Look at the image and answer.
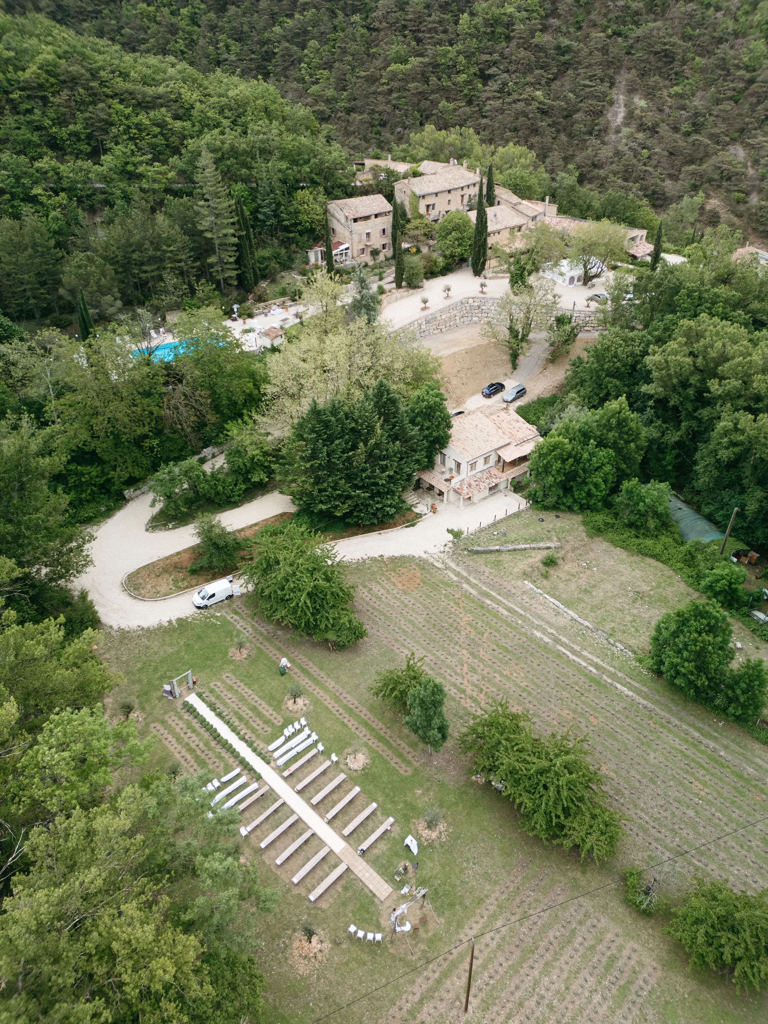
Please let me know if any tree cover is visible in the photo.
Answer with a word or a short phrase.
Yes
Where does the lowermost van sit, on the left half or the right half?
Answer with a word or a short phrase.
left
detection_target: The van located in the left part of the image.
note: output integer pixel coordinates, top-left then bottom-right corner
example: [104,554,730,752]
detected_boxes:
[191,571,242,609]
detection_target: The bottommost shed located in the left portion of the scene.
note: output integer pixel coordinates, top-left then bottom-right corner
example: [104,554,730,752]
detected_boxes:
[258,322,284,343]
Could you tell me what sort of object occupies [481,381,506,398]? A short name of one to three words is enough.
car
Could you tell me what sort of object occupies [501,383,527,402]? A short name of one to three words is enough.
car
